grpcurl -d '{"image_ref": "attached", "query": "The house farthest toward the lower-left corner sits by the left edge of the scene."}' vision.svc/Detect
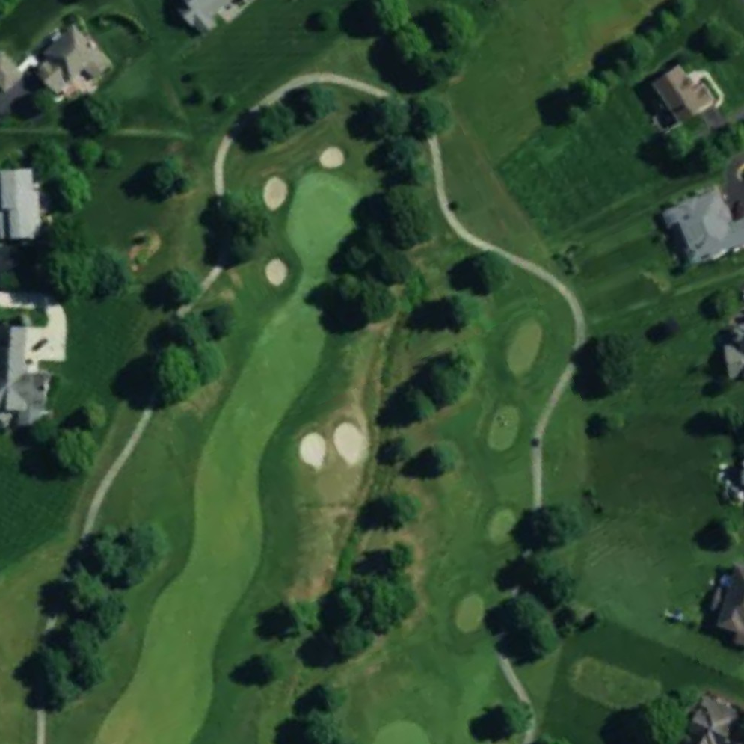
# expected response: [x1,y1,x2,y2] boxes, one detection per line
[0,326,53,420]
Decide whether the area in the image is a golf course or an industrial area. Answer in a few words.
golf course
